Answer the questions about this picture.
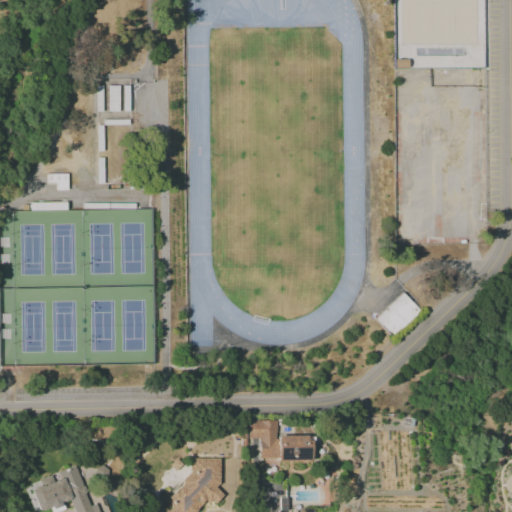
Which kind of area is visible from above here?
sports ground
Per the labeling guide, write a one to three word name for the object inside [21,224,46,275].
tennis court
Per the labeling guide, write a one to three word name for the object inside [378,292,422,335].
building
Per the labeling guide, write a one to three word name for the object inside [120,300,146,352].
tennis court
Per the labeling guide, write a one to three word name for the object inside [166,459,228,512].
house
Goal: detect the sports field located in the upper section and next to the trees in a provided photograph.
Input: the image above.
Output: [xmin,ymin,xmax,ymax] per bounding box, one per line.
[210,28,346,320]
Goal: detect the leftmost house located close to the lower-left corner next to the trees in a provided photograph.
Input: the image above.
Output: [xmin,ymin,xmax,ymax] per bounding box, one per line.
[26,466,98,512]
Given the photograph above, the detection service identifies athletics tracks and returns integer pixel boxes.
[187,0,366,346]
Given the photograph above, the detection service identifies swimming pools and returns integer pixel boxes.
[296,490,320,502]
[104,494,120,512]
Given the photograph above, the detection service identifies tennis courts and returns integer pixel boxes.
[121,223,145,274]
[22,302,46,352]
[120,300,146,352]
[50,224,76,274]
[52,301,76,352]
[92,300,116,352]
[88,223,114,274]
[21,224,46,275]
